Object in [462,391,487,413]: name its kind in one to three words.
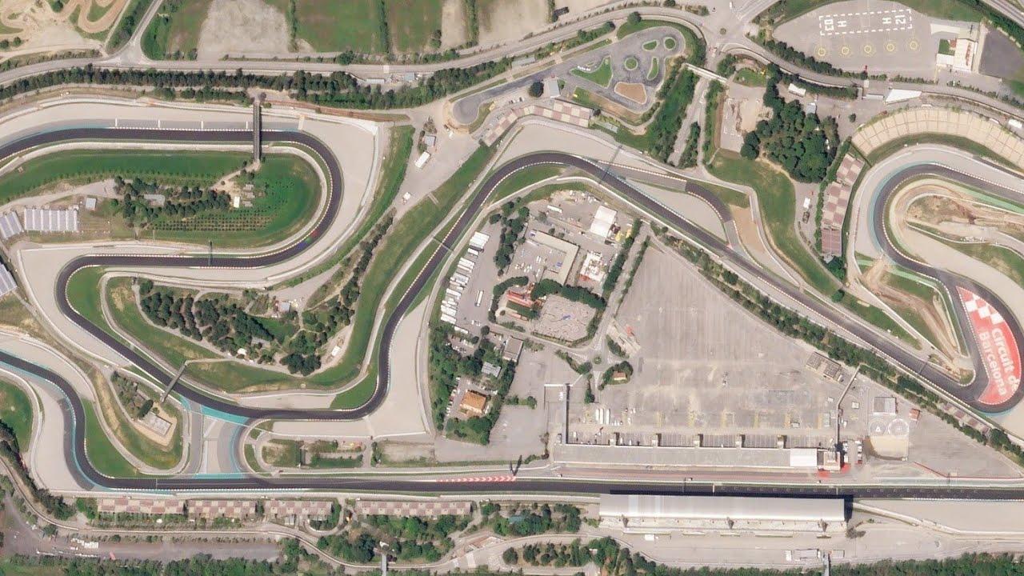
house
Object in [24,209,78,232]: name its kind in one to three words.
greenhouse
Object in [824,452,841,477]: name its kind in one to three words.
building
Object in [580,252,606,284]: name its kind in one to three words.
building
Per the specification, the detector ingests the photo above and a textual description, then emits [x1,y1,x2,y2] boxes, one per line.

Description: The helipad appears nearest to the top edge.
[772,0,977,81]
